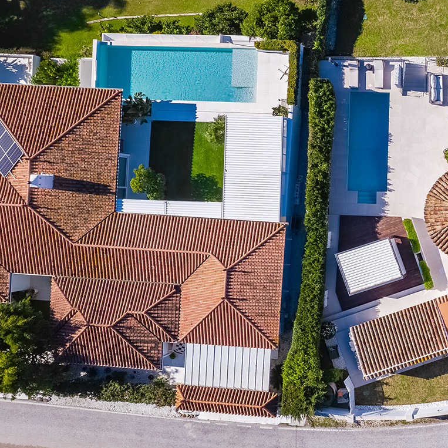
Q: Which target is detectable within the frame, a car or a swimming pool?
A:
swimming pool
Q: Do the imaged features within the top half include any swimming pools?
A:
Yes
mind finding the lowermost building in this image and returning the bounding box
[174,382,282,419]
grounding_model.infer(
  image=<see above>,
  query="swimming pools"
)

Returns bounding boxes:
[348,92,389,203]
[101,44,256,101]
